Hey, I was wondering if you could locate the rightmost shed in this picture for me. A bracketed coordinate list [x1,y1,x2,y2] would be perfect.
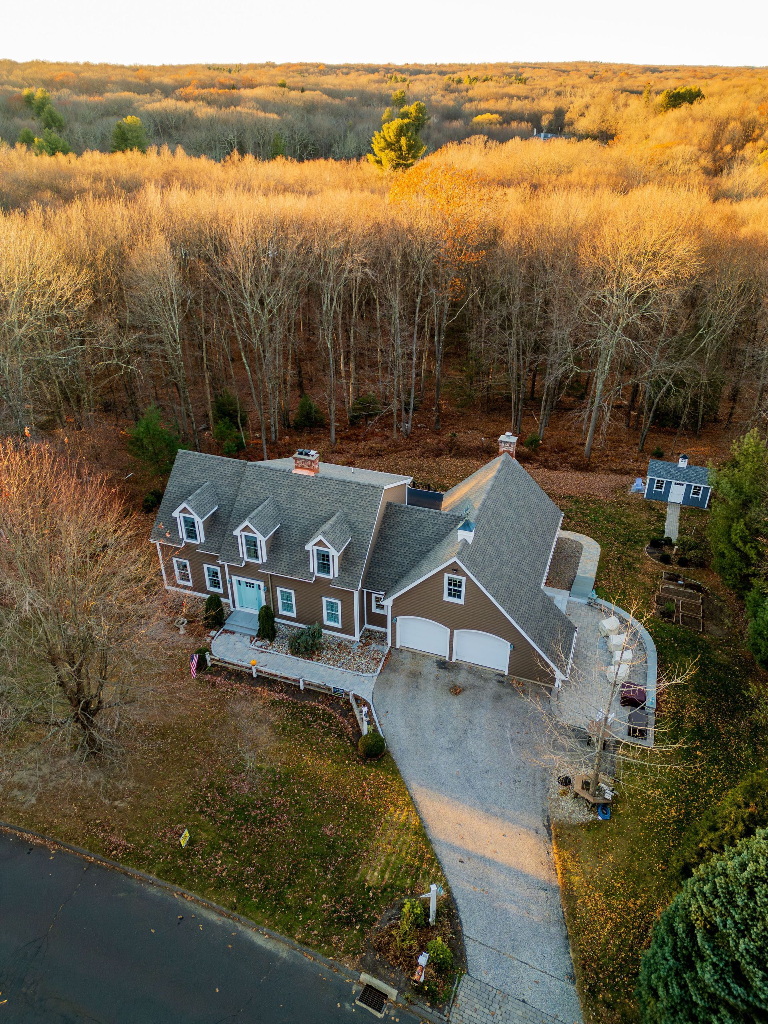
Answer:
[645,458,717,507]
